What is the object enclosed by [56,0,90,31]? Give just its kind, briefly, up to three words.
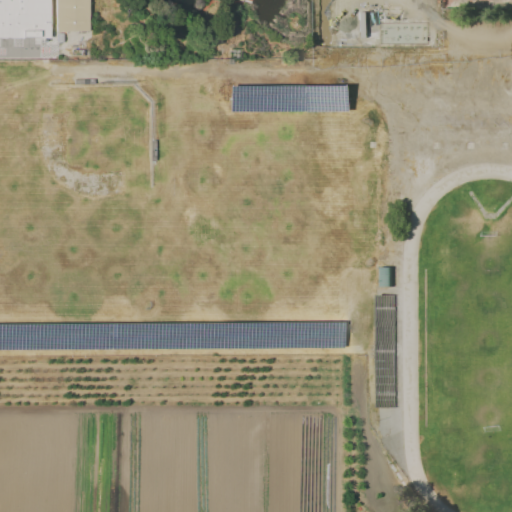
shed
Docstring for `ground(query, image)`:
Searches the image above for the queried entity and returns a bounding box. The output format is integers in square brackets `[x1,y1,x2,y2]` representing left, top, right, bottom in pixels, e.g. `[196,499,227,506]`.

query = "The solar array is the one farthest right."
[377,294,396,407]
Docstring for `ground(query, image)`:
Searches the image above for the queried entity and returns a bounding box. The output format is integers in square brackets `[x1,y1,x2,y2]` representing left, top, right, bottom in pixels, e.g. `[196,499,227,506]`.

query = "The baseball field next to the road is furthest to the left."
[40,80,154,192]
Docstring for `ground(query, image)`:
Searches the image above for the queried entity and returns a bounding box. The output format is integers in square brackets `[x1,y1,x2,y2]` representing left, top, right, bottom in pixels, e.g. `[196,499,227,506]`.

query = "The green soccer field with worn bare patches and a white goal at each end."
[427,236,512,428]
